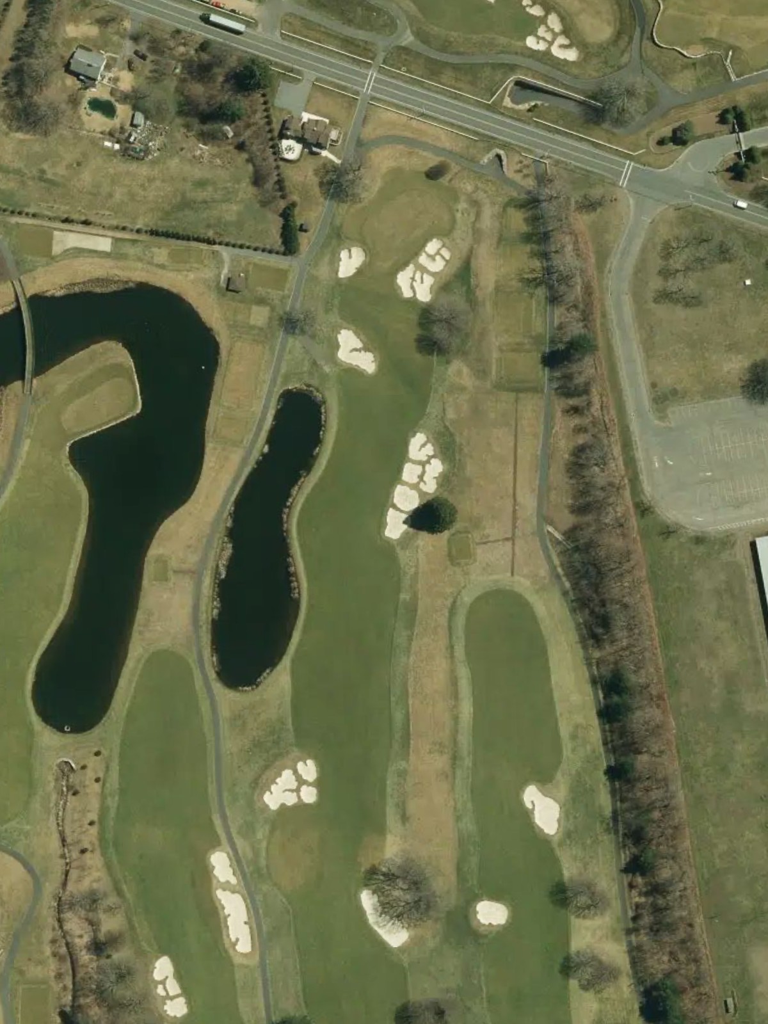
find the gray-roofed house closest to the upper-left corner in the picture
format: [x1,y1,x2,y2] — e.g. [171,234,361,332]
[69,47,107,88]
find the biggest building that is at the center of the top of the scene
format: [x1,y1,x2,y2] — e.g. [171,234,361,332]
[282,113,331,147]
